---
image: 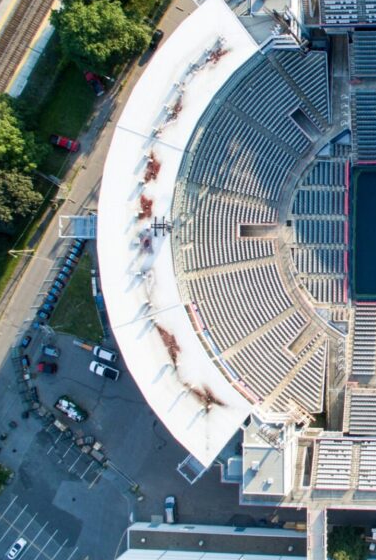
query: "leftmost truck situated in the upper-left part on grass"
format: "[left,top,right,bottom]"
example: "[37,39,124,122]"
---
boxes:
[47,131,78,153]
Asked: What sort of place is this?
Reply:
sports ground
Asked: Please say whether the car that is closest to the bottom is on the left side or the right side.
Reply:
left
